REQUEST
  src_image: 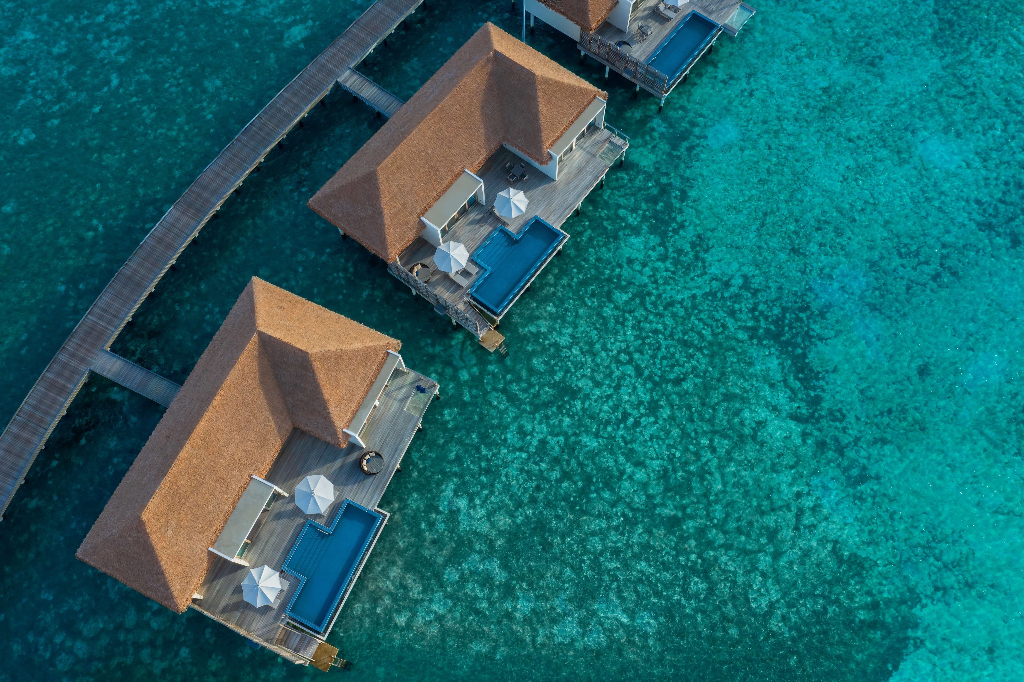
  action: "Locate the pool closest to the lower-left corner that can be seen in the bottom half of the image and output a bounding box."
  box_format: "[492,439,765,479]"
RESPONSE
[281,498,393,641]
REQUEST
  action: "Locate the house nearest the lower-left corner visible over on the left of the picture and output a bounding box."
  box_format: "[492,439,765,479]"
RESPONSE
[73,276,406,614]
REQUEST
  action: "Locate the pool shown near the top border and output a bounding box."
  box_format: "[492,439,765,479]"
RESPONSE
[635,10,724,127]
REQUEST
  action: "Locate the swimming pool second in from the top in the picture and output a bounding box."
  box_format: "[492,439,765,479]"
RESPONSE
[468,215,570,334]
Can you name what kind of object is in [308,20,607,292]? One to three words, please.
house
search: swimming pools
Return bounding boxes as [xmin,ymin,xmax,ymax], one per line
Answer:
[281,498,393,641]
[635,10,724,127]
[468,215,570,334]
